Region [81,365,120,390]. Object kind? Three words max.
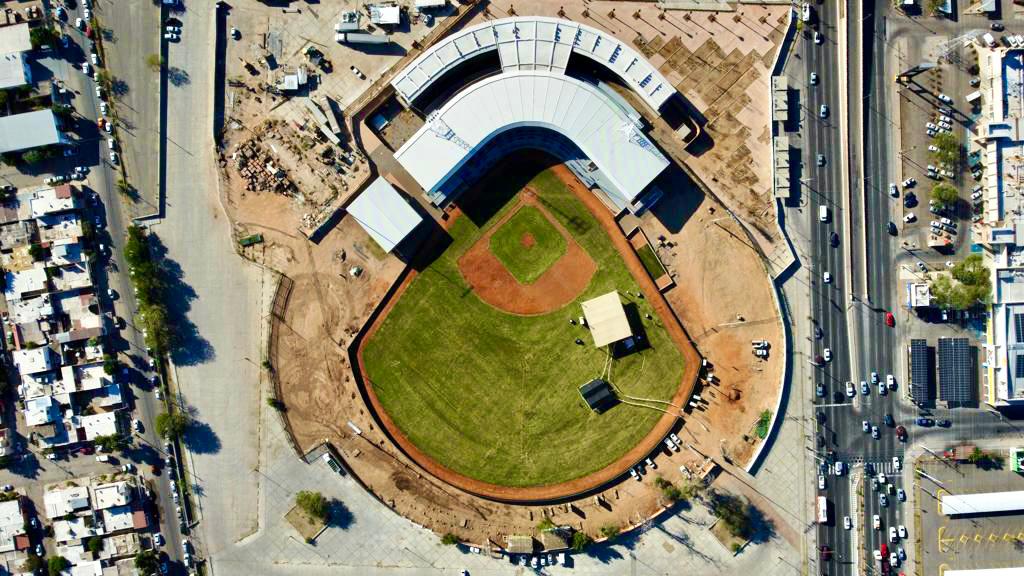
house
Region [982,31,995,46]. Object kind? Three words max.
vehicle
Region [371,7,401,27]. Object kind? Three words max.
building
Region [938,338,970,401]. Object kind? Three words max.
solar panel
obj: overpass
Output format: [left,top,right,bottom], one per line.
[841,0,869,300]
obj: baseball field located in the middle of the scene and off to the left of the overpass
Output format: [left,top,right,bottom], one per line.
[350,153,699,497]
